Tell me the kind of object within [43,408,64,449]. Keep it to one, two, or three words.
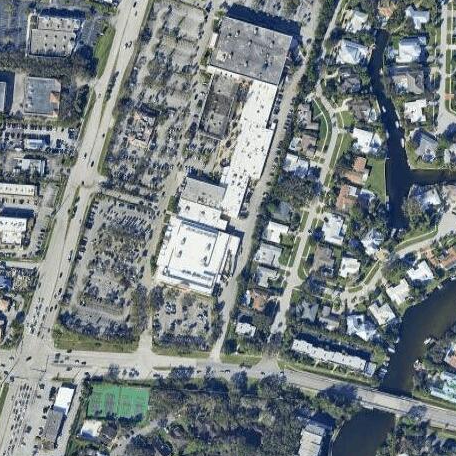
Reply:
building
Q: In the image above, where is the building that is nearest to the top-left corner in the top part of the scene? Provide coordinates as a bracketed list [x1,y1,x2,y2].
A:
[31,12,81,55]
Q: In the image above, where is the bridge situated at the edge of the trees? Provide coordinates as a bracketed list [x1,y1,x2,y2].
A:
[370,389,421,419]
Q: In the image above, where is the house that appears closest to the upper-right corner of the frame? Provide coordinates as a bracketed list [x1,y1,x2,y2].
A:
[401,4,429,28]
